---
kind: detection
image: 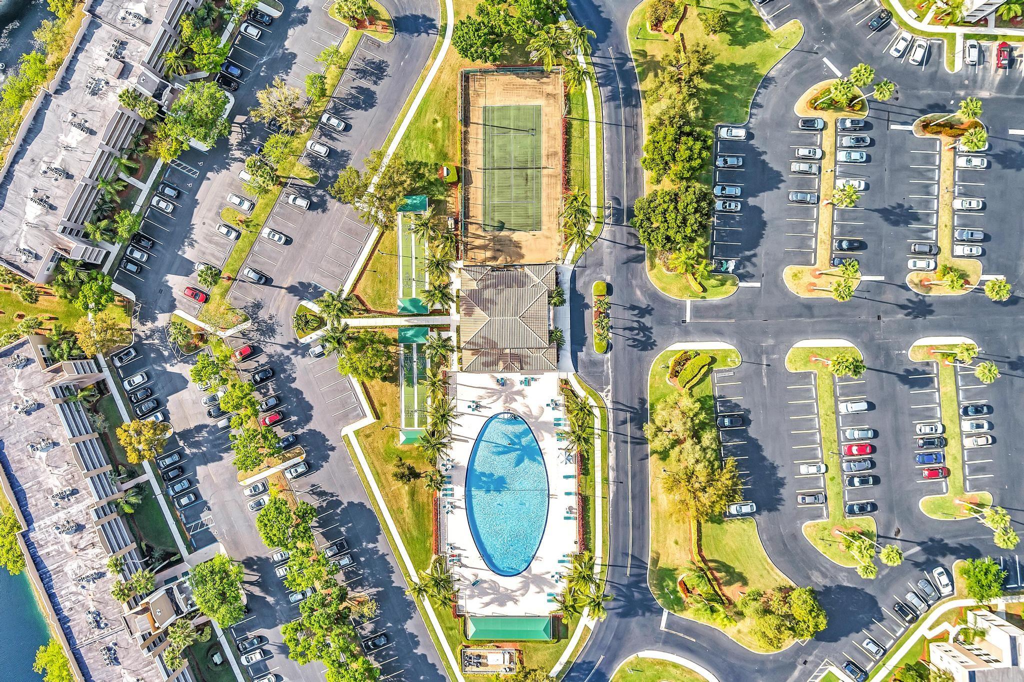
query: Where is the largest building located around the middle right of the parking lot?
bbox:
[460,265,557,375]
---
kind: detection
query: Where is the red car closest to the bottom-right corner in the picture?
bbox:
[921,467,949,479]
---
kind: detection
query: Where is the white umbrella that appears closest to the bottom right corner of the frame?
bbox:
[558,450,573,465]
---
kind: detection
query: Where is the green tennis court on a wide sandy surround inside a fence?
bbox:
[463,70,563,264]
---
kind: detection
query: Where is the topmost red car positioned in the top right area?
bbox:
[996,42,1011,69]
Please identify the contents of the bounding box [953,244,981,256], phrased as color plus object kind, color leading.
white vehicle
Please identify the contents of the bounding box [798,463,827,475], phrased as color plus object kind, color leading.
white vehicle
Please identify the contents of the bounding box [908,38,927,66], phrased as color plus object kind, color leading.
white car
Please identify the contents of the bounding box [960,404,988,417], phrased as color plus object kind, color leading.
blue vehicle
